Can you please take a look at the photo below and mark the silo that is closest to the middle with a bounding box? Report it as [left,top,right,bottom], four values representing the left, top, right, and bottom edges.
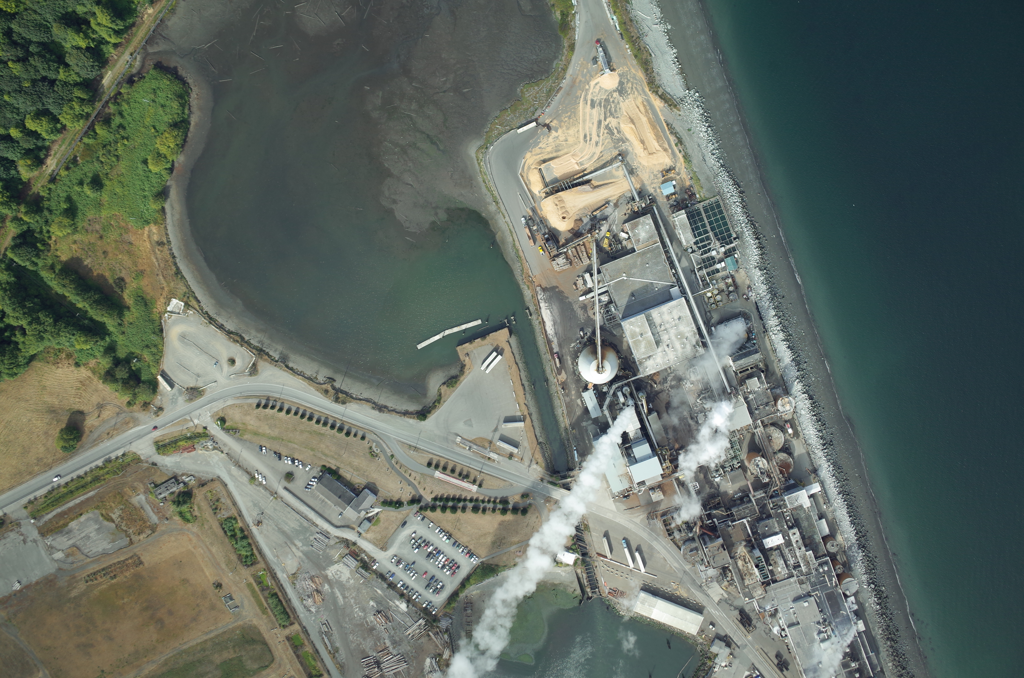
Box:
[574,341,623,388]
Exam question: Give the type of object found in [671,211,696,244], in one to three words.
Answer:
building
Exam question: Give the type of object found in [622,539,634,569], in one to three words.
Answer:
vehicle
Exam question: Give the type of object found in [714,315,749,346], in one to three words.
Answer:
cooling tower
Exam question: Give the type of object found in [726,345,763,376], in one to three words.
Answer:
house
